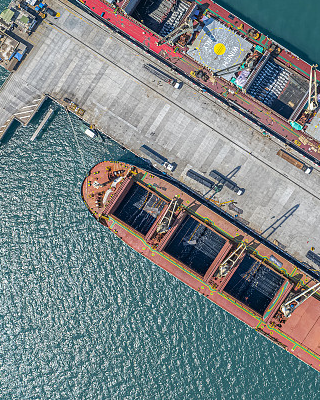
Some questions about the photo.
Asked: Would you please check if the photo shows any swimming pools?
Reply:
No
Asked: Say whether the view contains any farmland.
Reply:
No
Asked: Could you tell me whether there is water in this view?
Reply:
Yes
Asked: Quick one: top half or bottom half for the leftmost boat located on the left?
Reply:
top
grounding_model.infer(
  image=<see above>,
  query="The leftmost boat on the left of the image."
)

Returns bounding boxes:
[80,123,105,145]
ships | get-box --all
[76,0,320,163]
[81,161,320,373]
